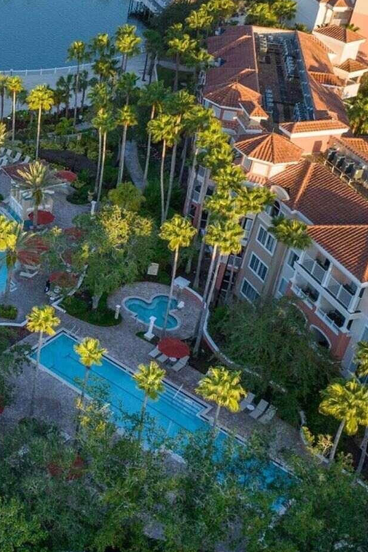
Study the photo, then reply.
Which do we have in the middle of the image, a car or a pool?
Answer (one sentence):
Looking in the middle of the image, you will find a pool.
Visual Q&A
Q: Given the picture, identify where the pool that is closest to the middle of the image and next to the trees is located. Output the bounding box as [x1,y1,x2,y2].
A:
[122,293,181,332]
